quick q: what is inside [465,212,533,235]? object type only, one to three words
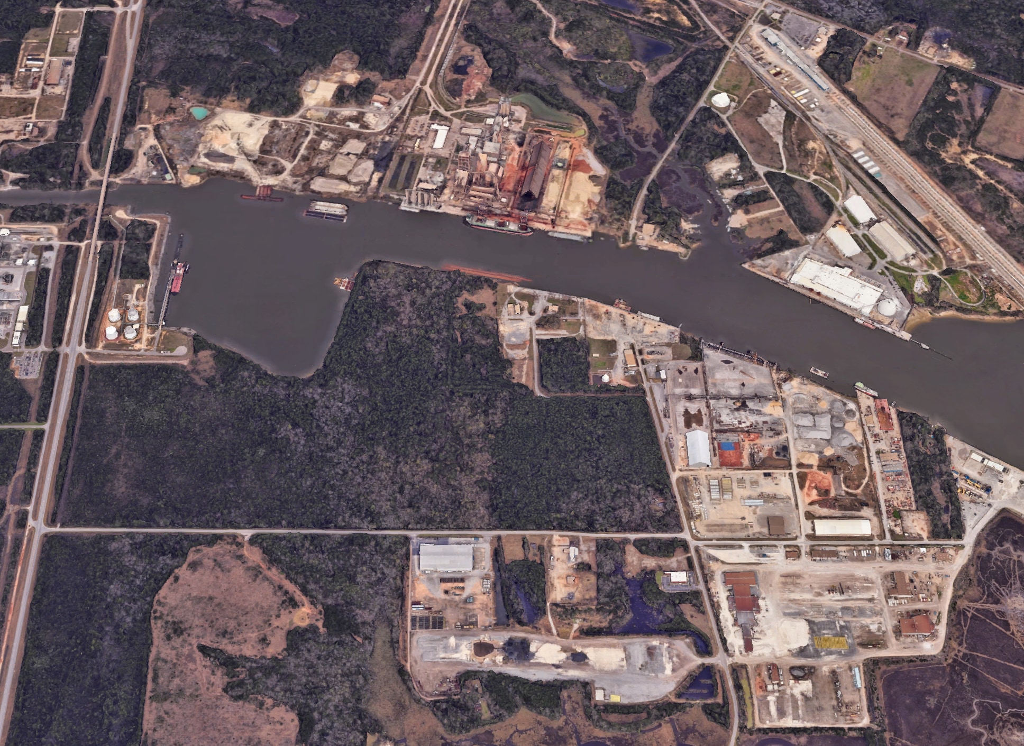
ship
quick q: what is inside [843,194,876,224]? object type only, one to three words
building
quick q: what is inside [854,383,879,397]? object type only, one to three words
ship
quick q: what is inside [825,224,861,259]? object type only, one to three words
building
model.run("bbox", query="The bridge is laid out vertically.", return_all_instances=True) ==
[88,131,113,260]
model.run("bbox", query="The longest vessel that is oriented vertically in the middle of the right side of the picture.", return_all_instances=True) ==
[874,399,893,430]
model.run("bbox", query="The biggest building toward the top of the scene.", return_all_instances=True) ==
[789,259,883,314]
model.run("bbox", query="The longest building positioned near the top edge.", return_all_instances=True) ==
[760,28,829,92]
